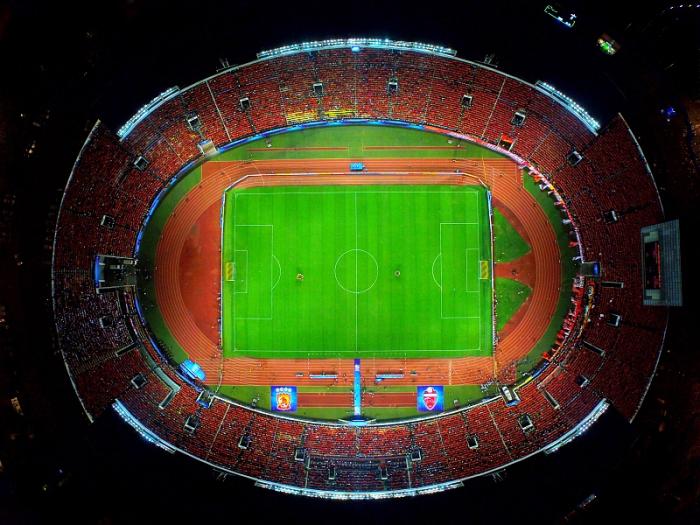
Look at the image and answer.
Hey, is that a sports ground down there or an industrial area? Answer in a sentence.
The area seen from above is a sports ground.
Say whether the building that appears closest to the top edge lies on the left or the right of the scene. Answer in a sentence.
The building that appears closest to the top edge is on the right side of the image.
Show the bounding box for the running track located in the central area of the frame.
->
[154,159,561,386]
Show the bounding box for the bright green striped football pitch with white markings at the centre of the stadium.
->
[224,185,491,358]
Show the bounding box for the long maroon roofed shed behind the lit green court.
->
[598,27,628,51]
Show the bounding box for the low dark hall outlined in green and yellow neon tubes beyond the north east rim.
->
[542,1,577,31]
